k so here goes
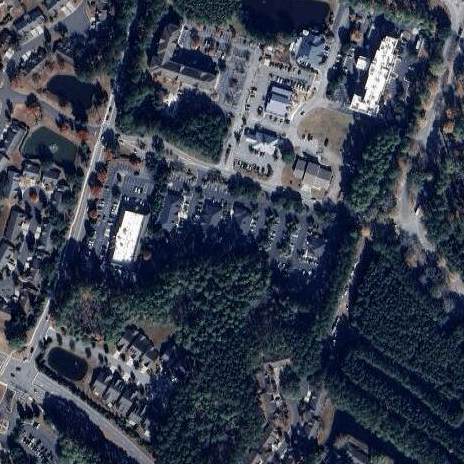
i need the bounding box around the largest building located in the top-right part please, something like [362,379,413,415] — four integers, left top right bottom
[350,36,404,113]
